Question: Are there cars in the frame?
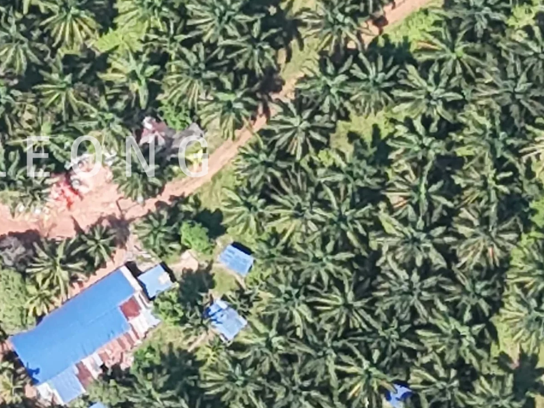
No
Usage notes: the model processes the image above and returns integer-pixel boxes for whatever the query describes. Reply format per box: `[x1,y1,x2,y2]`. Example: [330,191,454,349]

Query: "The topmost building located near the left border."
[9,267,161,403]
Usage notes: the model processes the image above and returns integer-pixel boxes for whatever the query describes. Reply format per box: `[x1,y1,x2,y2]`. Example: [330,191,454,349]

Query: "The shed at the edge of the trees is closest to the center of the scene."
[219,245,253,279]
